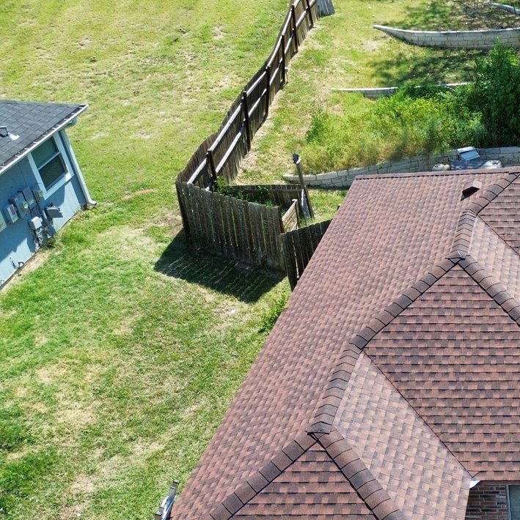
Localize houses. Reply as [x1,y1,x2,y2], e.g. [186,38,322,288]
[0,103,99,287]
[165,172,520,520]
